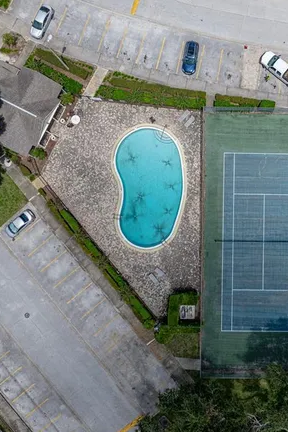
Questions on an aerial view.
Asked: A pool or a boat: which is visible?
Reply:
pool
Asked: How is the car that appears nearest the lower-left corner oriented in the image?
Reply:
on a diagonal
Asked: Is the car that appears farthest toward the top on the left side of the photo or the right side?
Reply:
left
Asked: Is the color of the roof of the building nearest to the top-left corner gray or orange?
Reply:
gray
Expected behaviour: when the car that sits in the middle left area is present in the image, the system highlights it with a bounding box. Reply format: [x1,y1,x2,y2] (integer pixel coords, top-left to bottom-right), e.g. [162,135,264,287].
[5,209,37,238]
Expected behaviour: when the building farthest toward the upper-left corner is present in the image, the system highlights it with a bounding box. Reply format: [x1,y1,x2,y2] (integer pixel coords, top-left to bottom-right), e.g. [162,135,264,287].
[0,58,64,154]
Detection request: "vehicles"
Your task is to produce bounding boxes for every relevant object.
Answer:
[5,209,37,238]
[262,55,288,88]
[31,4,53,40]
[181,41,197,74]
